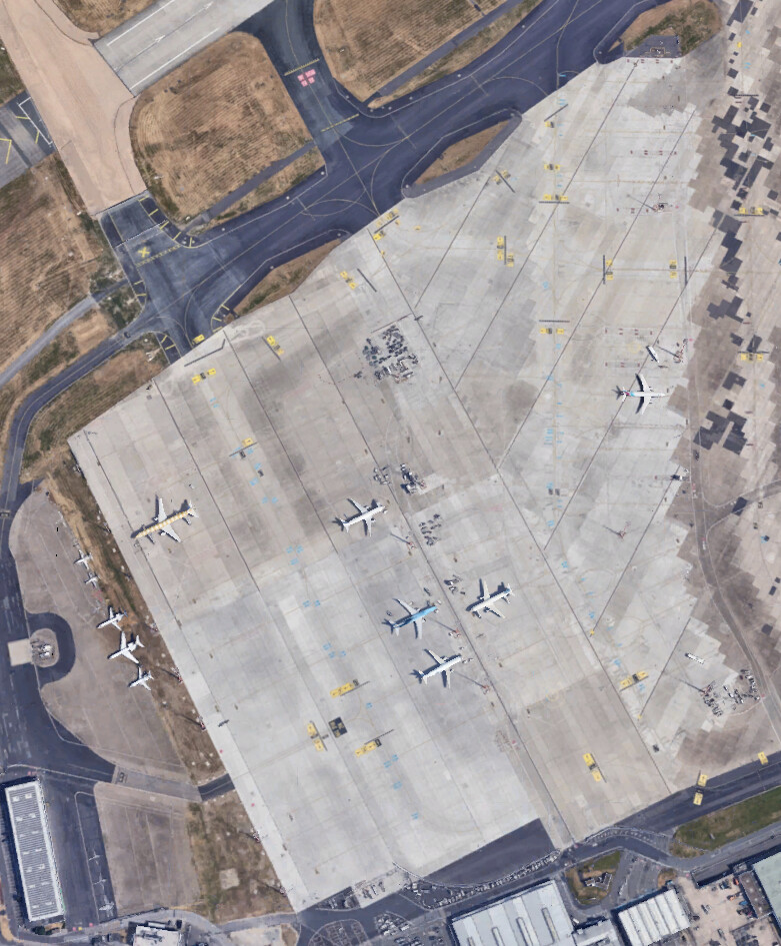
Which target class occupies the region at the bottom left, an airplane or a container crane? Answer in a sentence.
Looking at the bottom left, you will find an airplane.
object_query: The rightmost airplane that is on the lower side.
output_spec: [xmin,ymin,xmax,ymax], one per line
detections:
[471,577,515,619]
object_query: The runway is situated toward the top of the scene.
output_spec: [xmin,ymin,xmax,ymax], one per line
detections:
[94,0,273,96]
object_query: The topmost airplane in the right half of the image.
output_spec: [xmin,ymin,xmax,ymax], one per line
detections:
[621,372,665,416]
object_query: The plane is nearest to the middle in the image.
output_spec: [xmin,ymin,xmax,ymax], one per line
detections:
[339,498,385,539]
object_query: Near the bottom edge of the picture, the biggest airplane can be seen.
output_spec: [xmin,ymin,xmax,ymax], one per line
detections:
[99,896,116,916]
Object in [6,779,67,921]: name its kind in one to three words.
hangar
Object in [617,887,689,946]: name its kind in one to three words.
building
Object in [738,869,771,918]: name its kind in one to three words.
building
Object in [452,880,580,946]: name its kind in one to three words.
hangar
